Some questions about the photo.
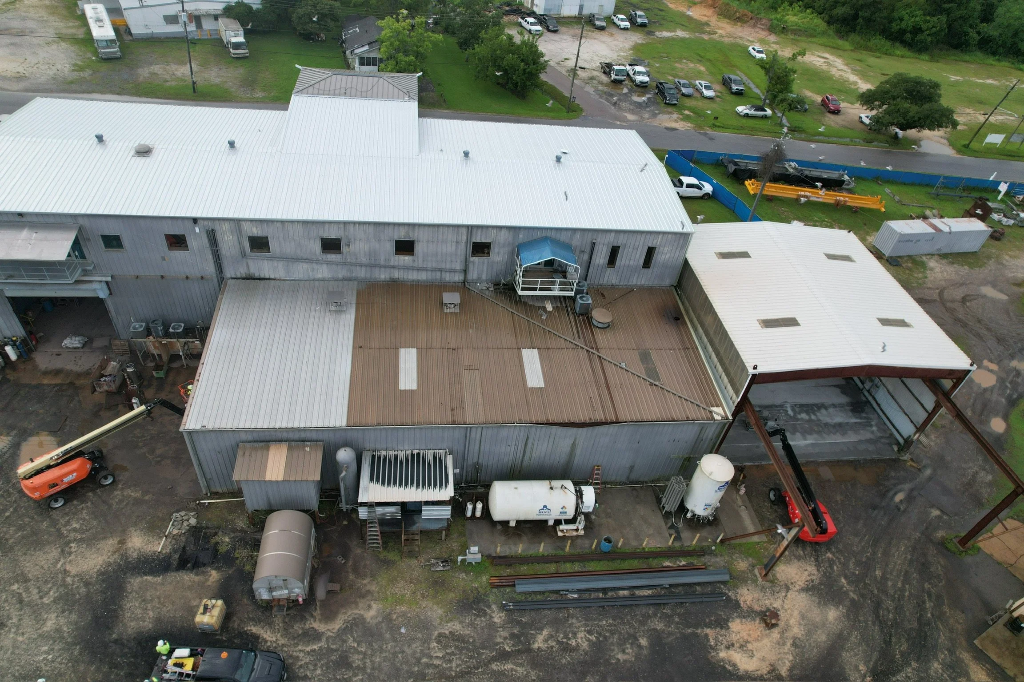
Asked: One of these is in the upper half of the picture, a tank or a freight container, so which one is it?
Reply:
freight container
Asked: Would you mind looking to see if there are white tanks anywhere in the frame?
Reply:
Yes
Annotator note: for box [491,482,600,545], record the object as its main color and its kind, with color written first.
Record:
white storage tank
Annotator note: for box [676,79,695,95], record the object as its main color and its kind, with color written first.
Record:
gray car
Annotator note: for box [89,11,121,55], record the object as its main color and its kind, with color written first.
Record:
white camper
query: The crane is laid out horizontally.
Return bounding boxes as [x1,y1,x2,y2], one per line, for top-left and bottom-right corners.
[748,176,891,221]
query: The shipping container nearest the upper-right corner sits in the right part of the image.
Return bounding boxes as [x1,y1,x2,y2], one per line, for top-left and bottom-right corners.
[871,219,988,258]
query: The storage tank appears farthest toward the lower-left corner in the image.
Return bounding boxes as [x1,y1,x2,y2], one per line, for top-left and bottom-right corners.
[252,509,319,623]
